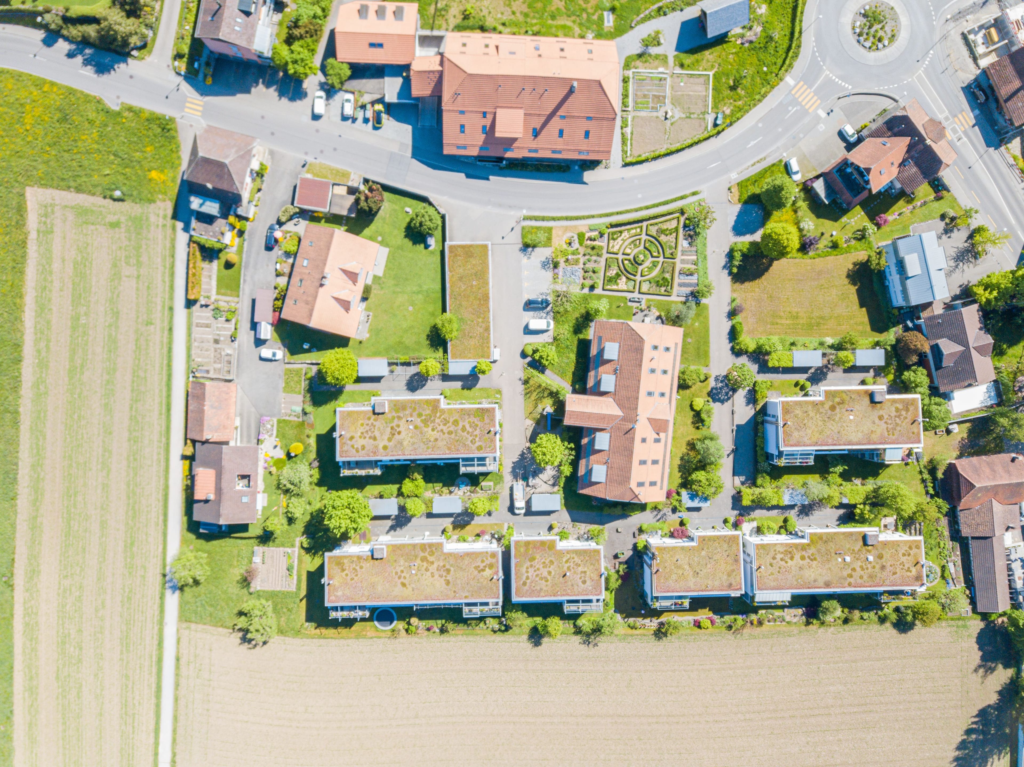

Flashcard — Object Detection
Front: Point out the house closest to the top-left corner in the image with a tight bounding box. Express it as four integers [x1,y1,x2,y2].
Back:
[195,0,279,68]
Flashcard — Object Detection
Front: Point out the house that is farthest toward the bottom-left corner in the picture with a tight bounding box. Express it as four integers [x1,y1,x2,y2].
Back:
[193,442,265,533]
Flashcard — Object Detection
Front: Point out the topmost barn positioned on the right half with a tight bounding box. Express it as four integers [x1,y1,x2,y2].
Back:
[695,0,749,42]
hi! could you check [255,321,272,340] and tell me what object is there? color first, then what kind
white camper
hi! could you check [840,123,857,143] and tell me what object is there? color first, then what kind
white car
